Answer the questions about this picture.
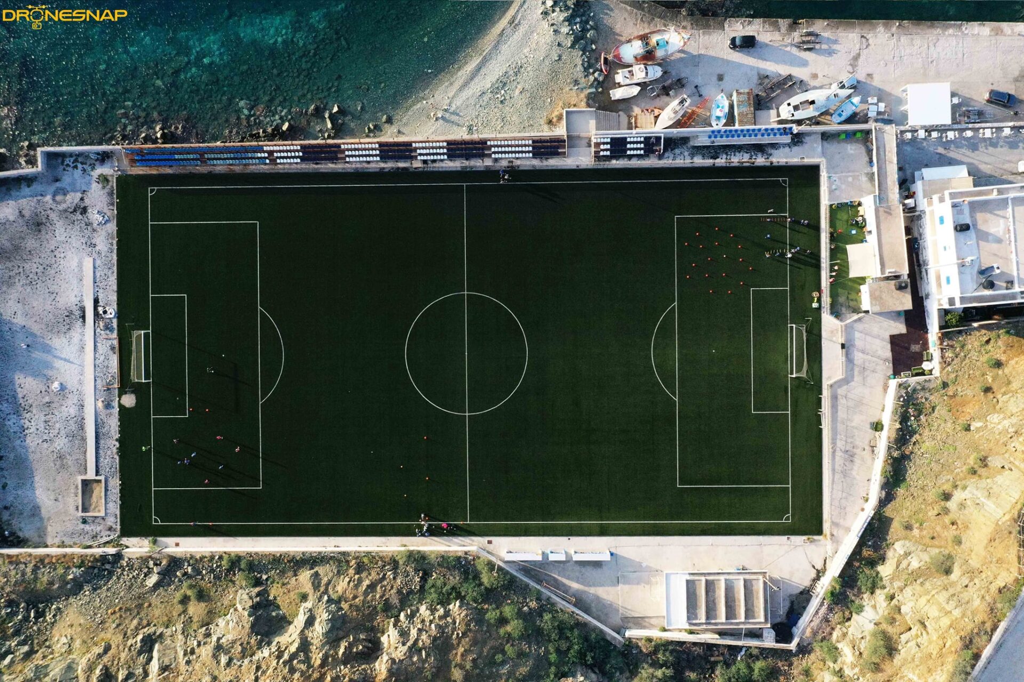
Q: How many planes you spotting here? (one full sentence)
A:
Not a single plane can be seen.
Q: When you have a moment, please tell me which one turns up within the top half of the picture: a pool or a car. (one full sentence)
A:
The feature located within the top half of the picture is a car.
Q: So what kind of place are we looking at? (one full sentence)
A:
This looks like a sports ground.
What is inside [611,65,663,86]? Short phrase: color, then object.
white boat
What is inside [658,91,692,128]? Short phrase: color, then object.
white boat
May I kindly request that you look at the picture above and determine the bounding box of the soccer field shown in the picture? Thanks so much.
[115,165,822,537]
